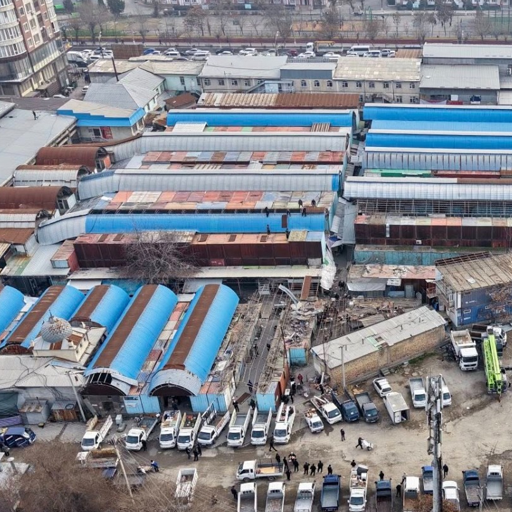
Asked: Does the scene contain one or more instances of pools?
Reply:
No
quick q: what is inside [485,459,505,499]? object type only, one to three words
vehicle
